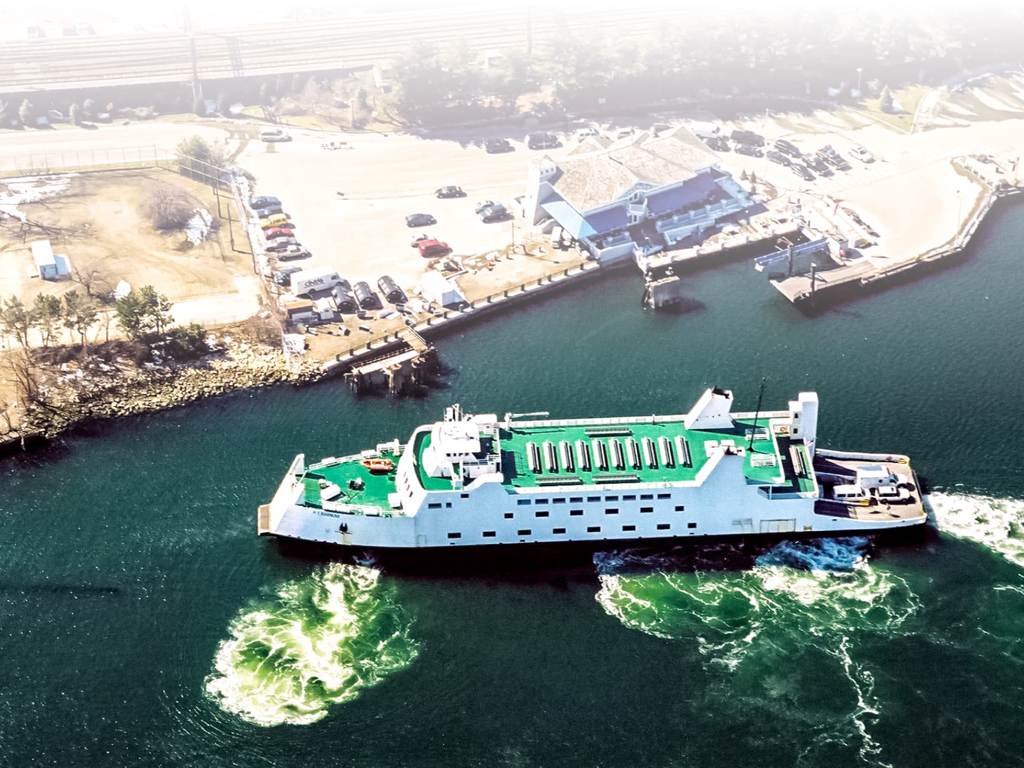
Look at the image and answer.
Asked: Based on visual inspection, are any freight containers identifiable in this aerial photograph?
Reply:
Yes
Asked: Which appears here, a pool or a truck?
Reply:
truck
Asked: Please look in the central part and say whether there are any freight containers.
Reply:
No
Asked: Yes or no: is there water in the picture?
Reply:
Yes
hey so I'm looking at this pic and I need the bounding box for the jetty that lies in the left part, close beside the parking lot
[342,330,438,389]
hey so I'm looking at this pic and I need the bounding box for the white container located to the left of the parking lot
[32,239,57,279]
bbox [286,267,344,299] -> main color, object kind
white truck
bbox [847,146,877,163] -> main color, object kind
white car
